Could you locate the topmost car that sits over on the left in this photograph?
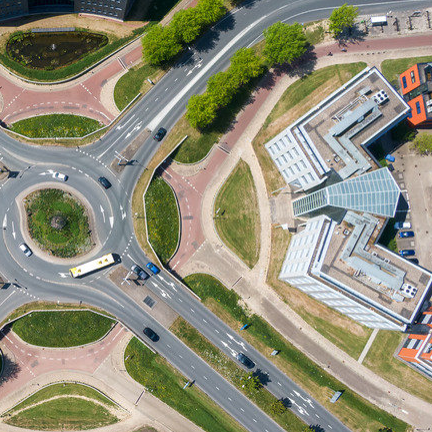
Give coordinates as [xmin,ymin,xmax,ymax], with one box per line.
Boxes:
[152,126,168,143]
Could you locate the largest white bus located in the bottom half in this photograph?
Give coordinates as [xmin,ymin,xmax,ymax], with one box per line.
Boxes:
[69,251,120,279]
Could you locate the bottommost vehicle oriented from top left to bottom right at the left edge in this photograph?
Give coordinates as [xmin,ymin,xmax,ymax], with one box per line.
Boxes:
[18,242,34,258]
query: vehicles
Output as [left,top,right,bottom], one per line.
[152,126,168,143]
[130,264,148,280]
[145,261,162,275]
[142,325,161,342]
[396,230,416,238]
[236,351,256,369]
[18,242,34,258]
[97,175,113,190]
[392,221,414,229]
[403,256,423,267]
[69,251,120,279]
[398,248,417,257]
[50,171,69,182]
